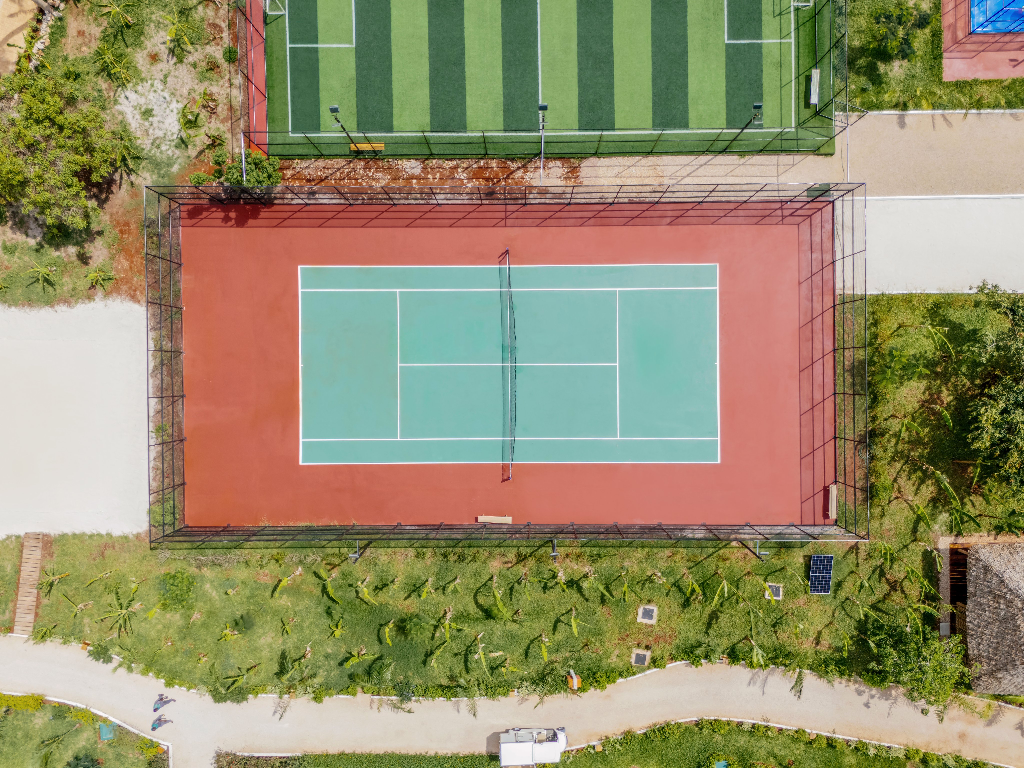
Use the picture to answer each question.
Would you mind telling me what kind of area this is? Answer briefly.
sports ground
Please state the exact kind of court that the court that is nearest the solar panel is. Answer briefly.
tennis court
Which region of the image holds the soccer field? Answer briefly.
top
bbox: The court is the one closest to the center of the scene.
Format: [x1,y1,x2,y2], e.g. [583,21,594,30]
[180,199,839,528]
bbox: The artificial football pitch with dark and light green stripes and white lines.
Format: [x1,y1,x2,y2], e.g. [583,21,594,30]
[266,0,835,159]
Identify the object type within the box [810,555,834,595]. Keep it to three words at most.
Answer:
solar panel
